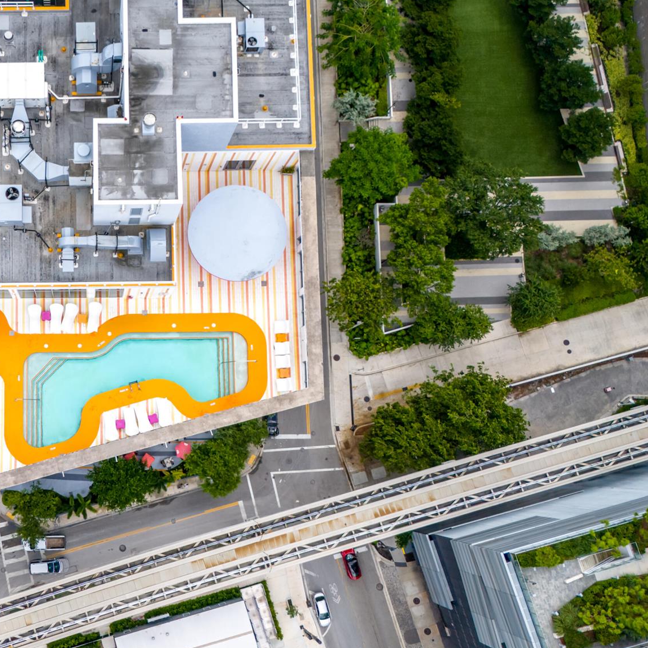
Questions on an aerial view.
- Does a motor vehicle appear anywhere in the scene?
Yes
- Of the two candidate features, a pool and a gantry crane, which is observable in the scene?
pool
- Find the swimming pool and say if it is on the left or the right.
left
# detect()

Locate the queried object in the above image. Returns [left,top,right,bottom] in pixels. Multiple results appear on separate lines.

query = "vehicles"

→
[310,589,331,629]
[263,407,281,443]
[339,549,362,582]
[23,534,67,551]
[30,557,69,575]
